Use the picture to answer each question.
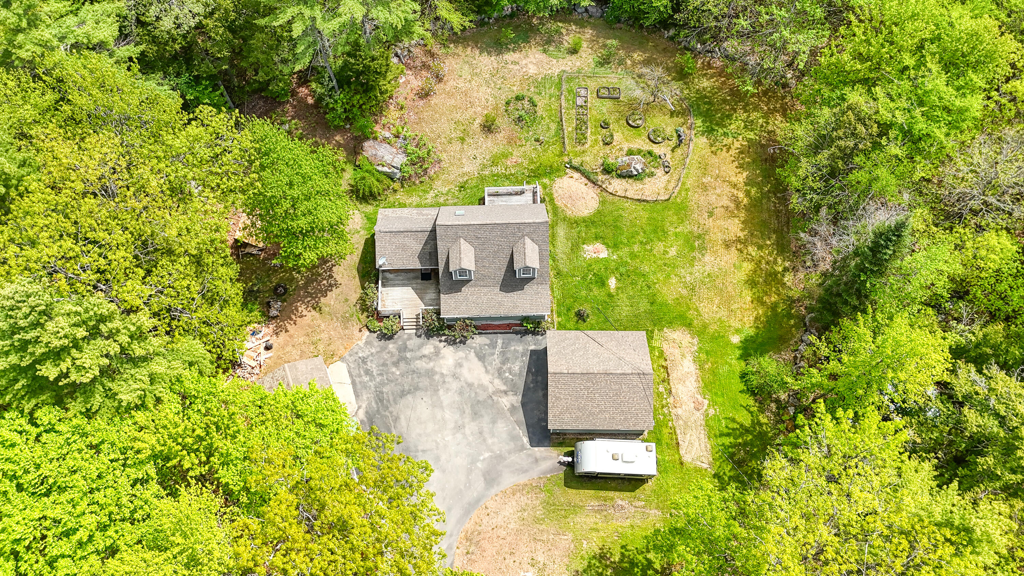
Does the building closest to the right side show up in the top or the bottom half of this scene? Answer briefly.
bottom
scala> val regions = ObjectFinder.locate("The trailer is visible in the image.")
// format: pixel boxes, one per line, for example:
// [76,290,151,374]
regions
[557,439,658,481]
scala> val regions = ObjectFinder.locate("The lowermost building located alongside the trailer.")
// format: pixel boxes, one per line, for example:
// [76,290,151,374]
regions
[546,330,654,434]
